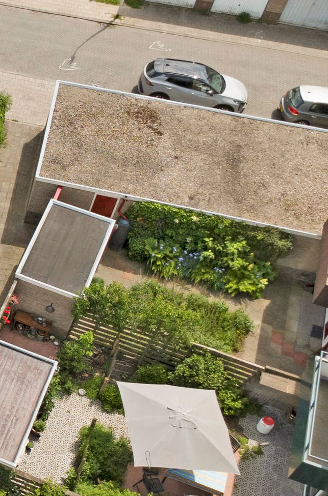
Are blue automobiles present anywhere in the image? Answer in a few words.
No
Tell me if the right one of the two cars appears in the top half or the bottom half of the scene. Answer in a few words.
top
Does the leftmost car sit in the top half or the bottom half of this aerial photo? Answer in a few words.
top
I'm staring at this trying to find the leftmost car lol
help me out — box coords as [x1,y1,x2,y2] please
[136,55,248,115]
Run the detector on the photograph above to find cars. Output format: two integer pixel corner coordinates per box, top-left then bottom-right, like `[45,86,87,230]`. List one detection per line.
[276,83,328,132]
[136,55,248,115]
